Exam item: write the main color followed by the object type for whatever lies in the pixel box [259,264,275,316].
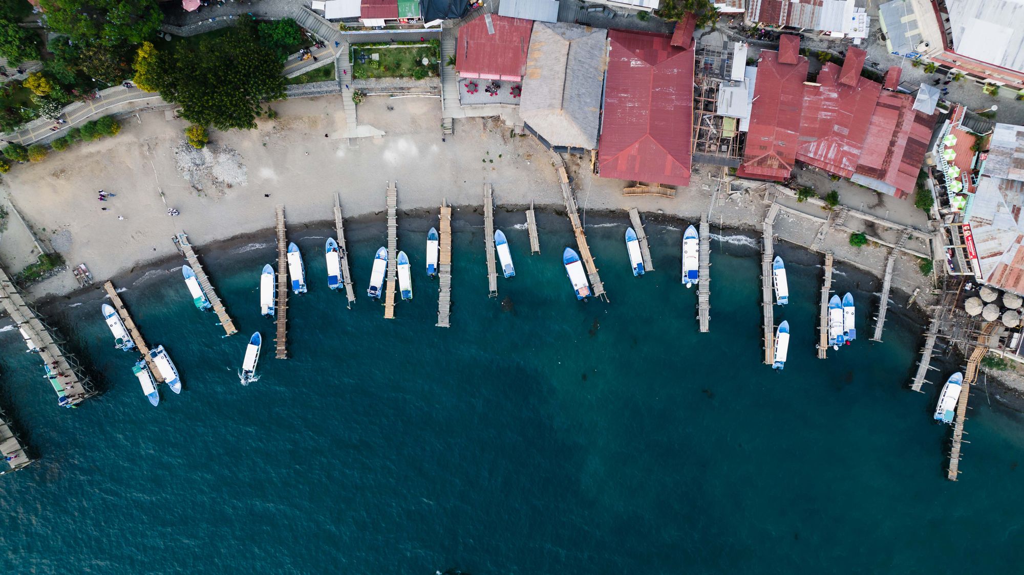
white boat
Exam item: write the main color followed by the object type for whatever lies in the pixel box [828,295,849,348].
white boat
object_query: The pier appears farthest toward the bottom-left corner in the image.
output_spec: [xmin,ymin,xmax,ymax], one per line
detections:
[0,384,47,472]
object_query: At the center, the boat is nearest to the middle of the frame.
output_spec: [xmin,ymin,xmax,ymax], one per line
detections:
[496,230,516,280]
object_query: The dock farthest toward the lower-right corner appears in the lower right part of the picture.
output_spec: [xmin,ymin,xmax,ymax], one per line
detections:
[943,365,981,481]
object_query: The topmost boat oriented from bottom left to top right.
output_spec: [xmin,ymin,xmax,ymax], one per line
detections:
[906,289,921,308]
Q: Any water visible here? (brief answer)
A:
Yes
